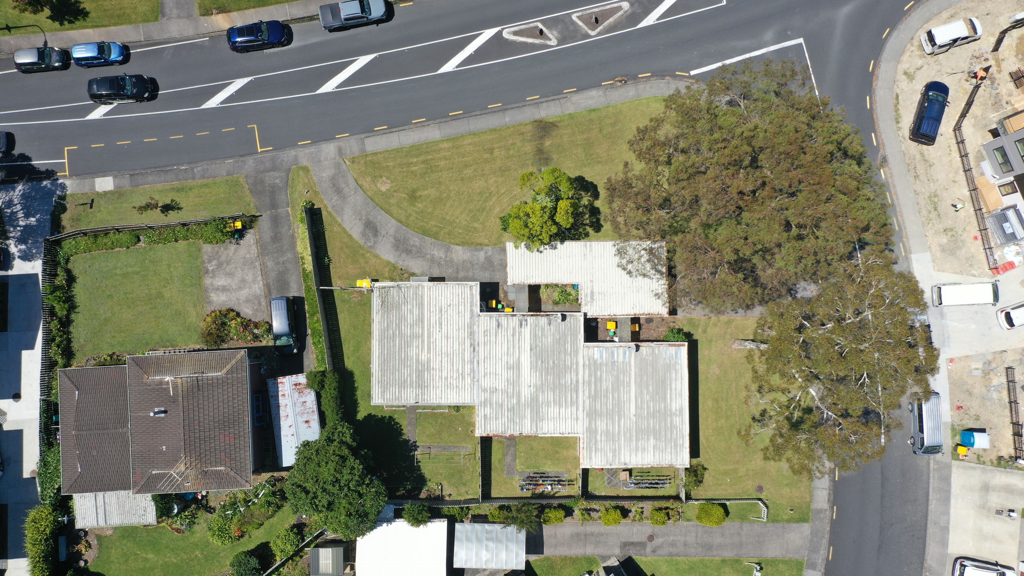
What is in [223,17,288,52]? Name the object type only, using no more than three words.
car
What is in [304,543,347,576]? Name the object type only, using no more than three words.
shed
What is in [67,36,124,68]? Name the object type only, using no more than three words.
car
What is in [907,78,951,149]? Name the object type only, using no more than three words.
truck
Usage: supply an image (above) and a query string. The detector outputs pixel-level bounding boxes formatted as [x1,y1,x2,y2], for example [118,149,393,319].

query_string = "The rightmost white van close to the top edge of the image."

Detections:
[918,13,985,57]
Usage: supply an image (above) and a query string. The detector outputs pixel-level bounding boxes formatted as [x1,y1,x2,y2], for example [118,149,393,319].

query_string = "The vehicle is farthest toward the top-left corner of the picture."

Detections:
[8,42,65,73]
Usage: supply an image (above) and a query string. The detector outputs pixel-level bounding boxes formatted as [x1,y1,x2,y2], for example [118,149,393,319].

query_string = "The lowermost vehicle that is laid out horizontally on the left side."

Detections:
[82,70,151,105]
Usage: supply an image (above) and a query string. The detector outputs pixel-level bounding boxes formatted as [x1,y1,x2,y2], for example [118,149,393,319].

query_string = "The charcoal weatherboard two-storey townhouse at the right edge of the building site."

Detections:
[979,111,1024,207]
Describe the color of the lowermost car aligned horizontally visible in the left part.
black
